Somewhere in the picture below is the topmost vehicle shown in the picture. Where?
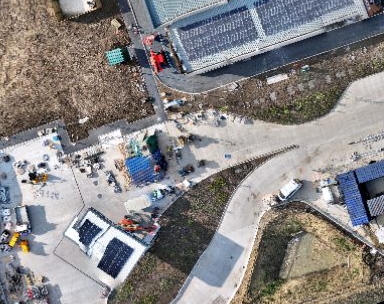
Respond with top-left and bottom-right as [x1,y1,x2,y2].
[138,25,171,48]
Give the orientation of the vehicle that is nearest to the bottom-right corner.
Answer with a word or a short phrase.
on a diagonal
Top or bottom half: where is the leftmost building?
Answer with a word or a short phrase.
bottom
